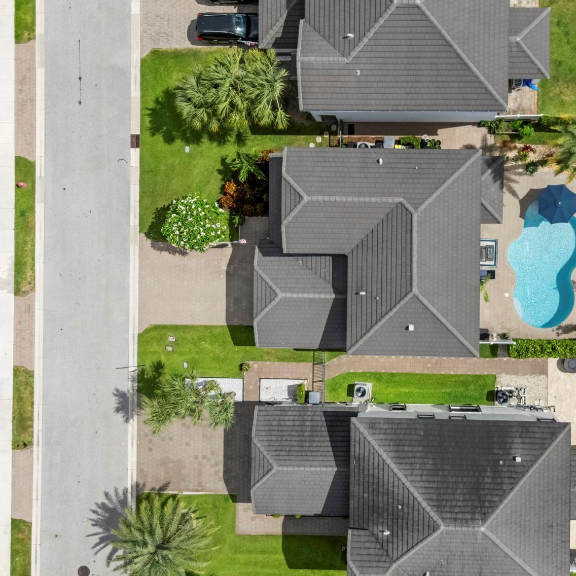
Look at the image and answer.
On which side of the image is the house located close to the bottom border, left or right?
right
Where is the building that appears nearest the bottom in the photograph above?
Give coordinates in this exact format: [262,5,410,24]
[249,402,576,576]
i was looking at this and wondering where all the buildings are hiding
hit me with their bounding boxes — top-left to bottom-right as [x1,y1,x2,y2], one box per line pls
[250,146,505,359]
[258,0,553,125]
[249,402,576,576]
